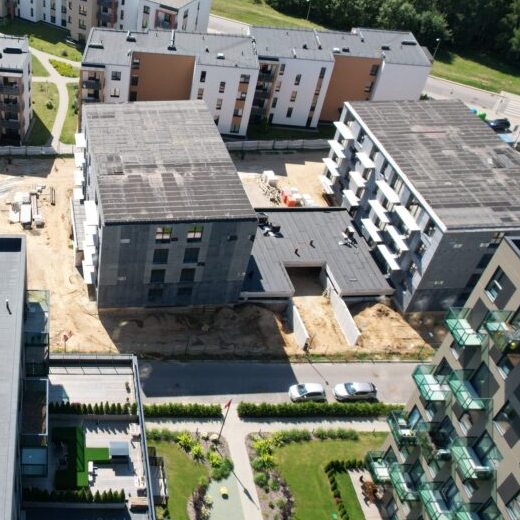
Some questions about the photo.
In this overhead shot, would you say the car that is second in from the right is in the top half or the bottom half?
bottom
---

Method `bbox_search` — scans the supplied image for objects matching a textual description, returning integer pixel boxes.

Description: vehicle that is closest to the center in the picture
[288,382,329,402]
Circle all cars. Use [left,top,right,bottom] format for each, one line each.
[334,381,380,402]
[288,382,329,402]
[484,116,515,129]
